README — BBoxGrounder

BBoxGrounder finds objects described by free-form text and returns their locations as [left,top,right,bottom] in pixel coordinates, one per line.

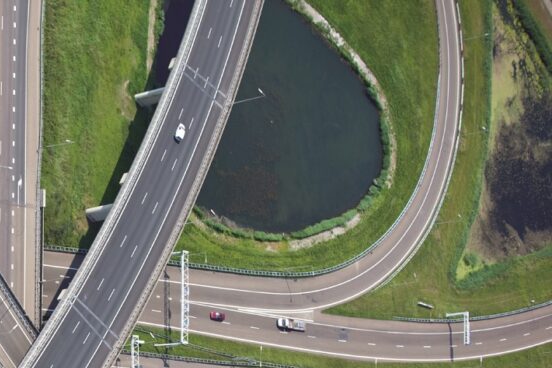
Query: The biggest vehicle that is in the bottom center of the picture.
[276,318,306,330]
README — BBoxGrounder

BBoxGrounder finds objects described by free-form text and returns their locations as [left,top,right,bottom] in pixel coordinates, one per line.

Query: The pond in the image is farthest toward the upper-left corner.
[144,0,383,236]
